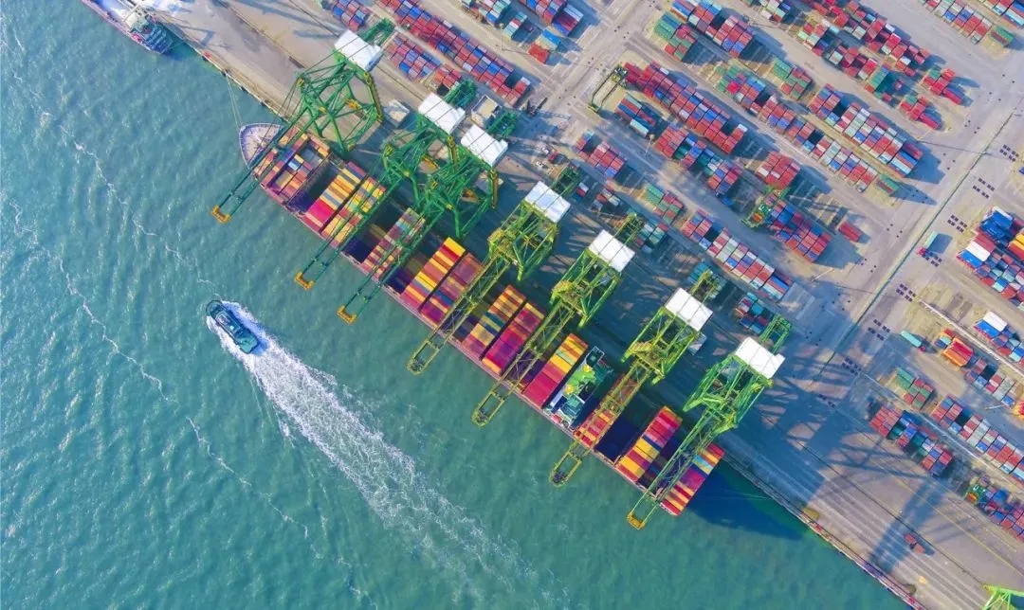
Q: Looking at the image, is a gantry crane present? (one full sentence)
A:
Yes, looking at the shot, I can spot a gantry crane.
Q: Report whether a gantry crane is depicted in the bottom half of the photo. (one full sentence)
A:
Yes, a gantry crane appears in the bottom half of the photo.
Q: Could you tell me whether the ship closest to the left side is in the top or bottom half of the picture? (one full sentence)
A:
The ship closest to the left side is in the top half of the image.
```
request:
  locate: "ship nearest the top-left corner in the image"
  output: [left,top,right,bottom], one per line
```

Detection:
[82,0,176,57]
